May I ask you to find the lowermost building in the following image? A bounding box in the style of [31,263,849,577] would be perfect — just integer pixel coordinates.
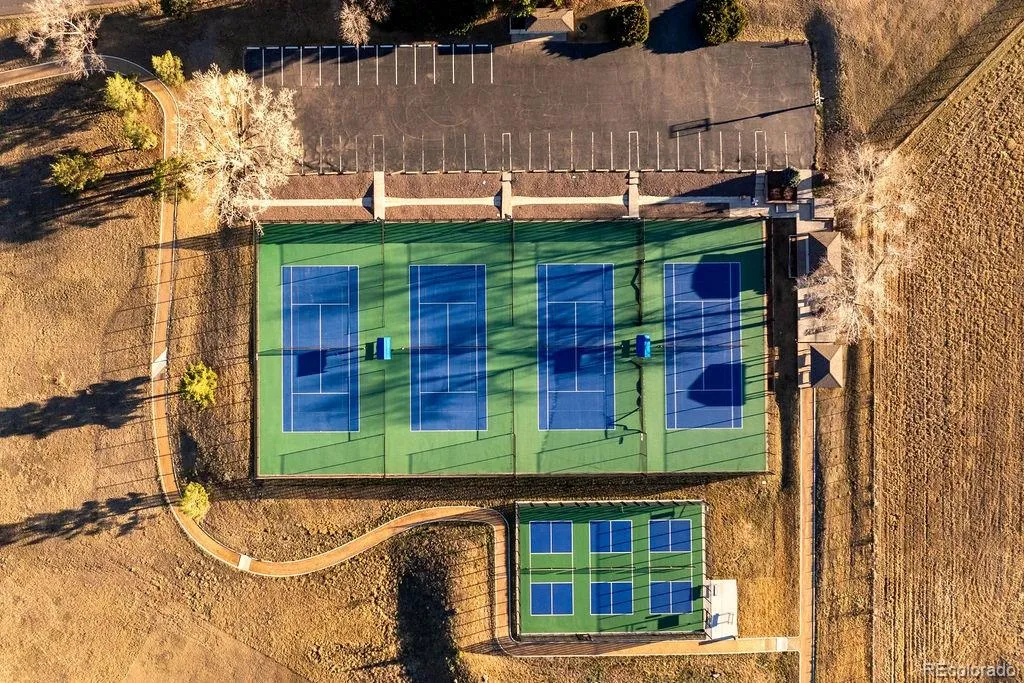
[806,344,843,388]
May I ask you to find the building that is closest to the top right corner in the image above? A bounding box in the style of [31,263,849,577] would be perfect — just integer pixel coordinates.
[781,231,841,278]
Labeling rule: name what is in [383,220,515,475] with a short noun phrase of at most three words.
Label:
tennis court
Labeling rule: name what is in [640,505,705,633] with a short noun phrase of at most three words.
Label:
sports court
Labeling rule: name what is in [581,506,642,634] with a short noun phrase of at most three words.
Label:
sports court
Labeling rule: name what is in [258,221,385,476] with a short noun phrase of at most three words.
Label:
tennis court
